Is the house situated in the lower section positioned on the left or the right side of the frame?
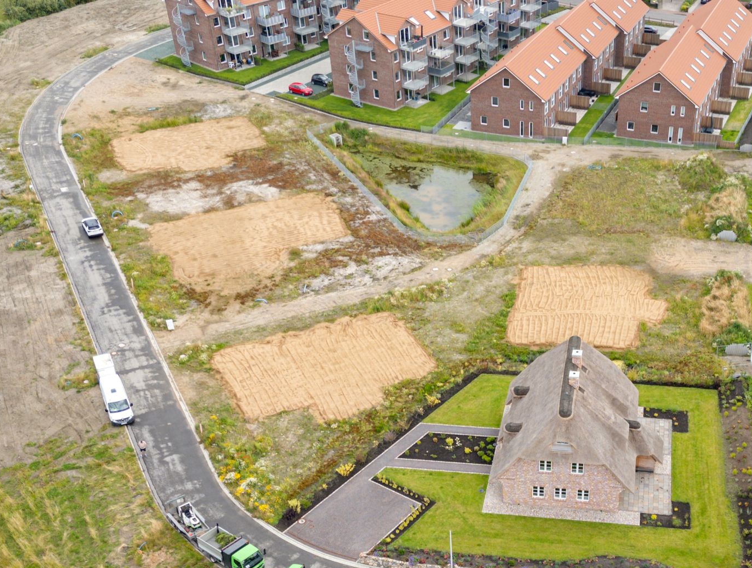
right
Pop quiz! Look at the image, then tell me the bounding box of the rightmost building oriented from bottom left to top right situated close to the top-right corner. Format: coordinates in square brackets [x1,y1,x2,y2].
[615,0,752,146]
